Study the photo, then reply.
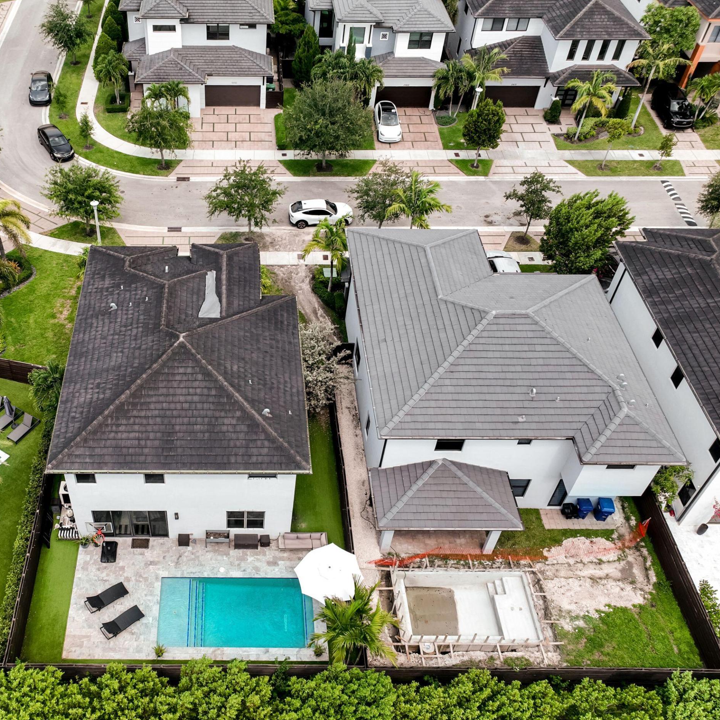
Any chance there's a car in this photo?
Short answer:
Yes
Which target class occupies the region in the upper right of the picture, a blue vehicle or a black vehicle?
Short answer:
black vehicle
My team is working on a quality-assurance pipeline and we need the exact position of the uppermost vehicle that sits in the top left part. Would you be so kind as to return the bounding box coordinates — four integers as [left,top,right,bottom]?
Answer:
[29,71,56,101]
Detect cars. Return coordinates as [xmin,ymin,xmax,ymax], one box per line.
[29,71,56,101]
[486,246,519,273]
[372,101,400,137]
[35,122,71,159]
[647,80,696,125]
[289,199,353,228]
